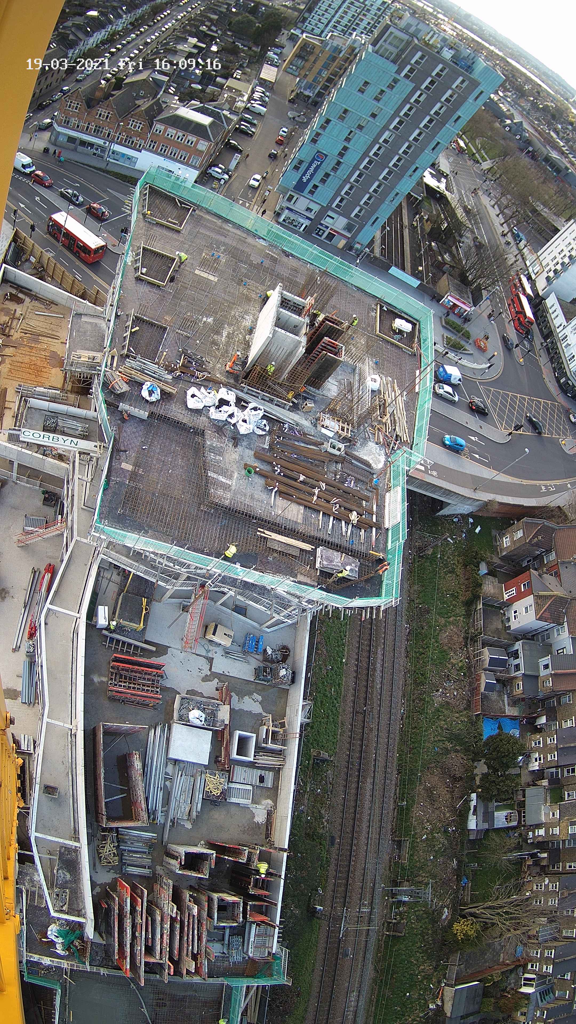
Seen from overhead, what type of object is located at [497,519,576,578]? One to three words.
house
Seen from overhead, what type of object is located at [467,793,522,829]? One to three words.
shed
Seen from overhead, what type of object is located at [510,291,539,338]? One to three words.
bus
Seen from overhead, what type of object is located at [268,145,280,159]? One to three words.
vehicle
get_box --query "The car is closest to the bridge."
[443,435,472,453]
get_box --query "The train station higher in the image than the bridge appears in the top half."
[370,168,474,299]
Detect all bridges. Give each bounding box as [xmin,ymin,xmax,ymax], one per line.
[392,463,494,515]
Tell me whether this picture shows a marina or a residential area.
residential area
